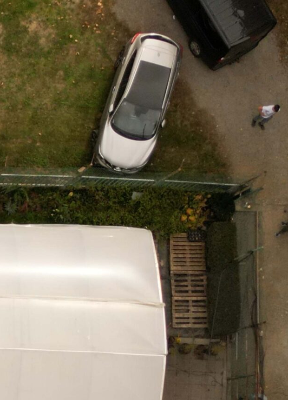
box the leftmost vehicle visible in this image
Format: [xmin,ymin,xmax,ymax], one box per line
[81,31,180,174]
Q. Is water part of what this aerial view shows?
No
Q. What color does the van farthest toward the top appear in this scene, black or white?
black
